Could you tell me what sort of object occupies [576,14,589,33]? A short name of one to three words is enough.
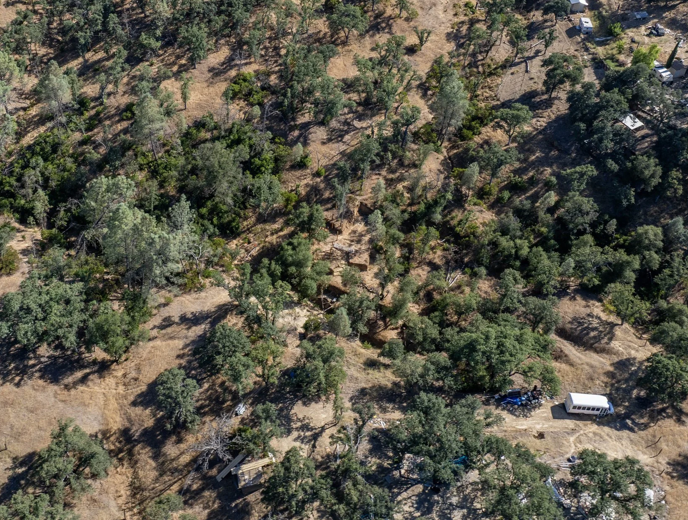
vehicle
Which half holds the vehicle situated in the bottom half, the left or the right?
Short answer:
right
